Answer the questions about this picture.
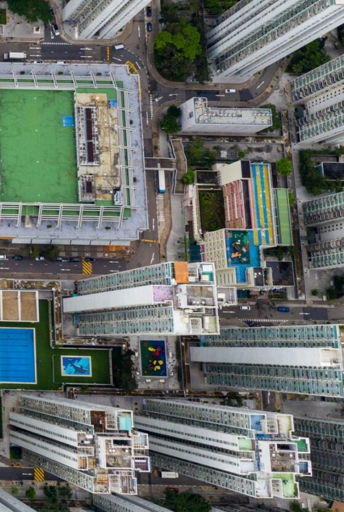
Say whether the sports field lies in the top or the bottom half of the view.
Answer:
top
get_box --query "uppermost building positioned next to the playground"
[71,262,237,337]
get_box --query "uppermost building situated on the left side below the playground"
[12,396,150,495]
